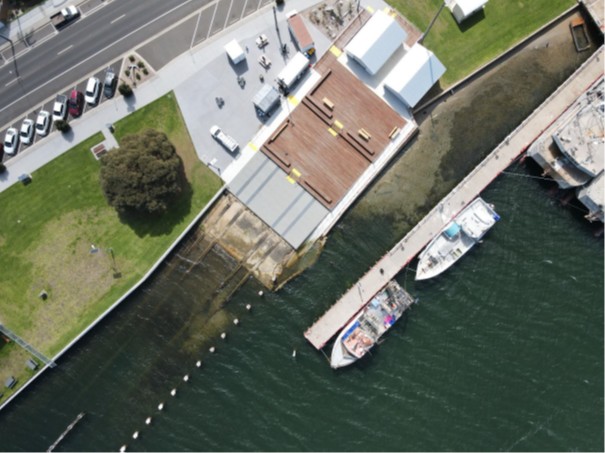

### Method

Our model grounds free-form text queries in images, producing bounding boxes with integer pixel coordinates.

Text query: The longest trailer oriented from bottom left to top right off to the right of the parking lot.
[277,51,310,93]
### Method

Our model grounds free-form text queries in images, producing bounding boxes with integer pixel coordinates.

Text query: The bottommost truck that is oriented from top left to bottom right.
[210,125,239,155]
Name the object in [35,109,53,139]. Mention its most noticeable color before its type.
white car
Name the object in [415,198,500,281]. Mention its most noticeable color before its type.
white boat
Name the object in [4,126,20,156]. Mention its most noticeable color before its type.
white car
